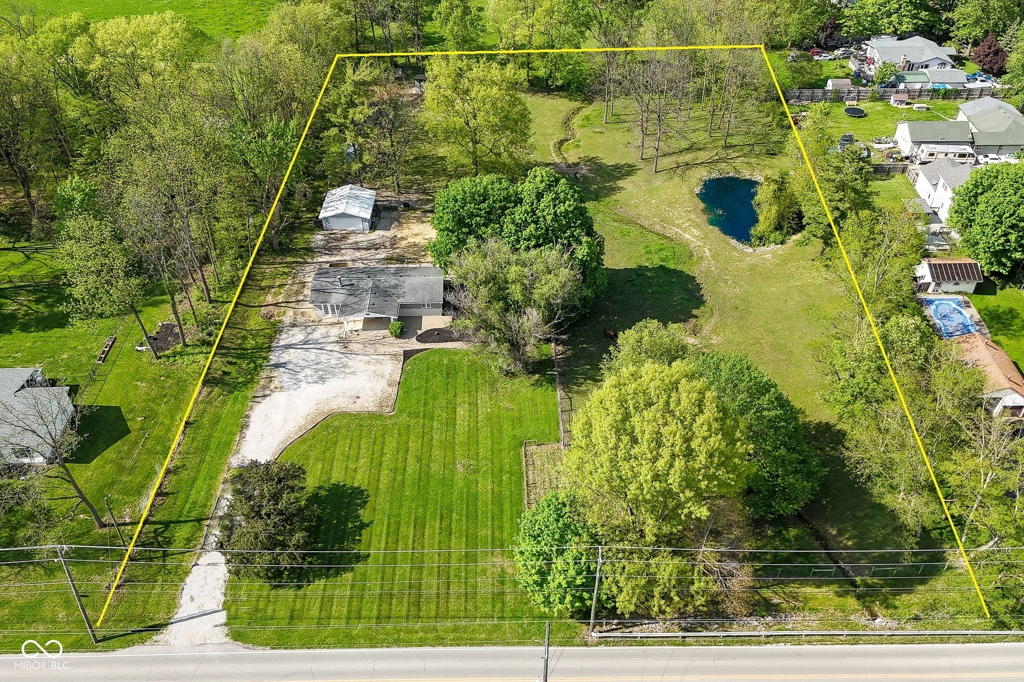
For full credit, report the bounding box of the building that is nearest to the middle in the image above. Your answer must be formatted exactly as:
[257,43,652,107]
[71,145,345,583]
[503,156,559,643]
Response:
[308,267,447,340]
